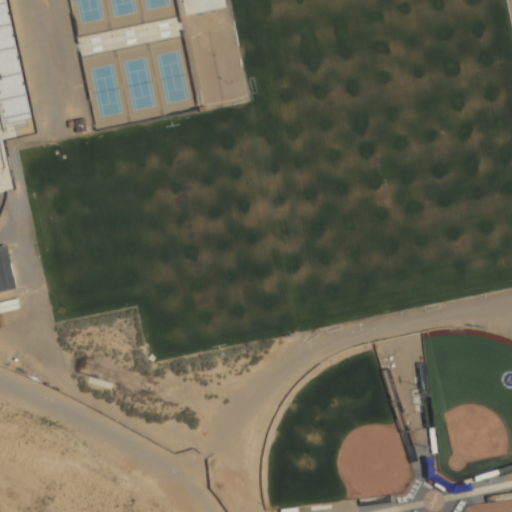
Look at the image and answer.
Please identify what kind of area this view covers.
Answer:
sports ground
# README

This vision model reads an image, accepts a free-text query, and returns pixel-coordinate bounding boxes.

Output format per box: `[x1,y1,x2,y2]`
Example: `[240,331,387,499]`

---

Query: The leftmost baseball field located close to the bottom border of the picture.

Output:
[268,350,412,506]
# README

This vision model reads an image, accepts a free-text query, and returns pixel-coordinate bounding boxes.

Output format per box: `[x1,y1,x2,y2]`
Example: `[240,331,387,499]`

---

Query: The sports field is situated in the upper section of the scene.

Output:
[20,0,512,362]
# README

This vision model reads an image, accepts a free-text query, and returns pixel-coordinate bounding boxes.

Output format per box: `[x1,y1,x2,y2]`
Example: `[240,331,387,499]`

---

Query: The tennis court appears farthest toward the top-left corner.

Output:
[70,0,110,38]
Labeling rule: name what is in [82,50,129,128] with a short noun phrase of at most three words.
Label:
tennis court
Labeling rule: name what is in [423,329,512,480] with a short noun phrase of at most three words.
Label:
baseball field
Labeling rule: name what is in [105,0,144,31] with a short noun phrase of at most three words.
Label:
tennis court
